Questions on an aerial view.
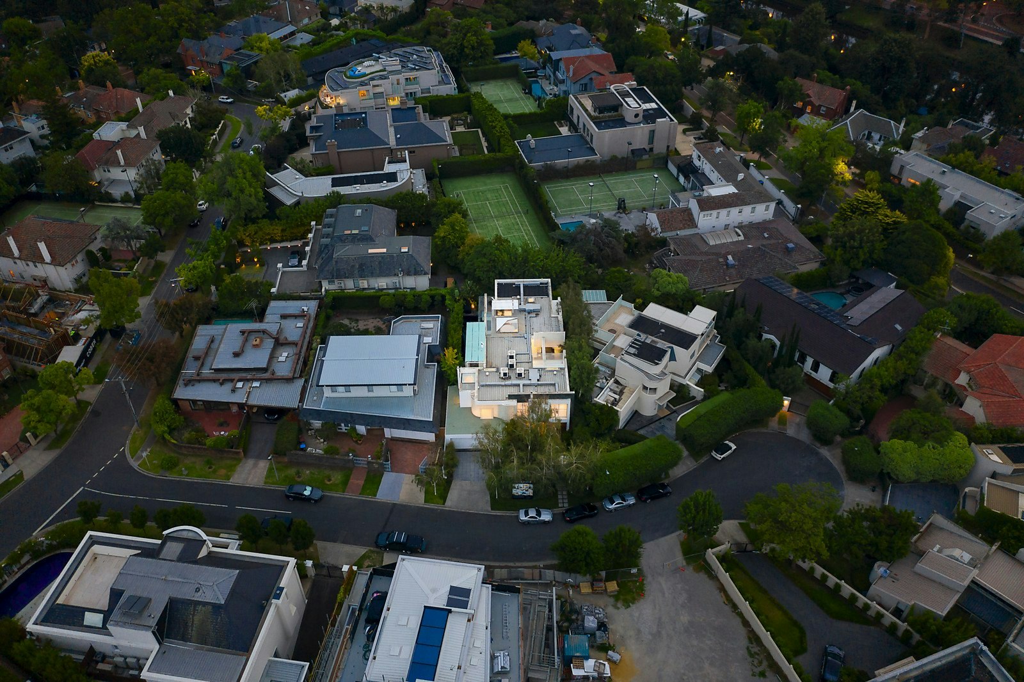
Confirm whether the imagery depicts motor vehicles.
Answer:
Yes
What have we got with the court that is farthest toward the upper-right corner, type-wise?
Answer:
tennis court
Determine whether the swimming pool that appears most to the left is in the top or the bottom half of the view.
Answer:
bottom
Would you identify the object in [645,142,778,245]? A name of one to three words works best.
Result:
house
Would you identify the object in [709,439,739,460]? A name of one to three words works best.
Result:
car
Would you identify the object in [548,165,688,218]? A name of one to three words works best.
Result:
tennis court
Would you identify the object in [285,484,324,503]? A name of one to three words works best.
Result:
car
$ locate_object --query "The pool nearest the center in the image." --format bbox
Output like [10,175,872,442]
[569,218,589,237]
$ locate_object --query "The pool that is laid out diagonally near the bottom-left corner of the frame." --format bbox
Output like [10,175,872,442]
[0,547,76,623]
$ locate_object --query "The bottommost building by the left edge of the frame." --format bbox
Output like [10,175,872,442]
[26,525,308,682]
